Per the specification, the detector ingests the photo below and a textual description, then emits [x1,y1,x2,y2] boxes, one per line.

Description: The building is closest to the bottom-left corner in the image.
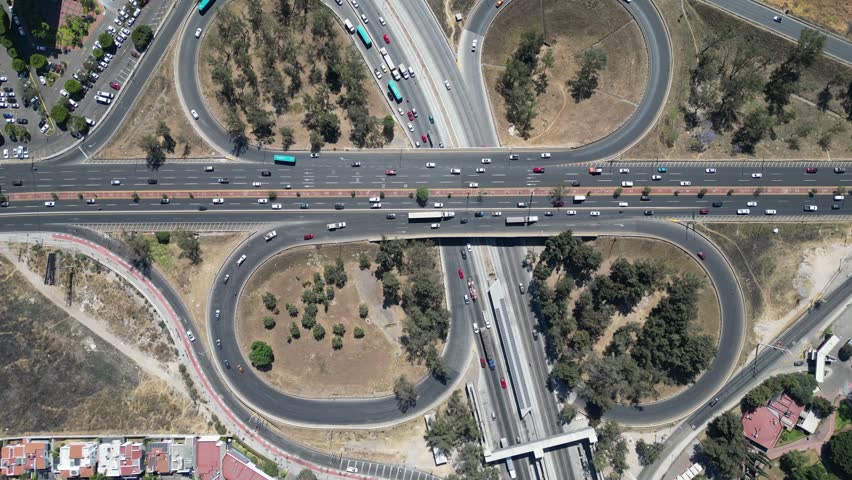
[0,440,33,475]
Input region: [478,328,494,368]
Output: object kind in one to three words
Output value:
vehicle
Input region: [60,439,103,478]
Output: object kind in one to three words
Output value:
house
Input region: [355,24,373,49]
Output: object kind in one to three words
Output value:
vehicle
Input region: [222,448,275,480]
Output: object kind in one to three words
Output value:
shed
